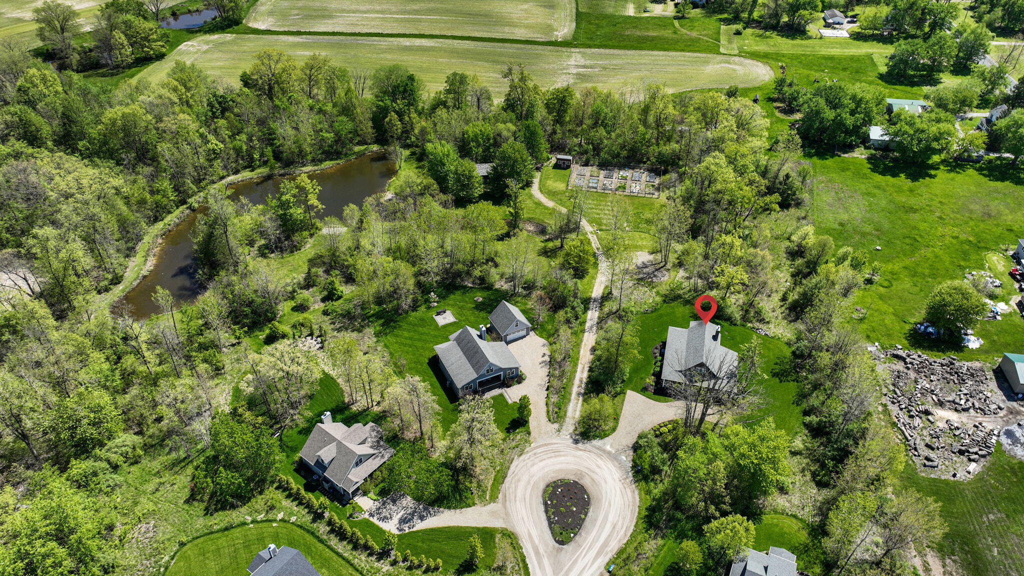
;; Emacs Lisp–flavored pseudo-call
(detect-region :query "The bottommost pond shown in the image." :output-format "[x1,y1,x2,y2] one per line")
[107,150,397,319]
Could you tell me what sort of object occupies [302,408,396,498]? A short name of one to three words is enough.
house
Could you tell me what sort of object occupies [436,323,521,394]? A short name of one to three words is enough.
house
